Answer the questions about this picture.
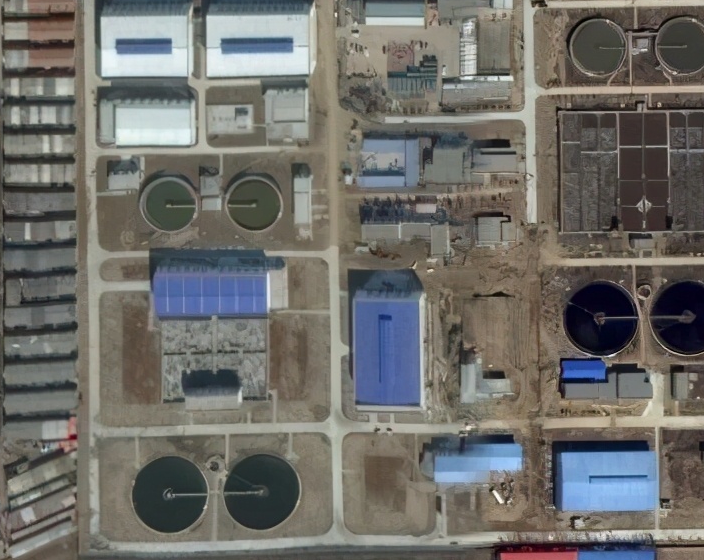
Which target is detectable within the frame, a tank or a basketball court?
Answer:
tank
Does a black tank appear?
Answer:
Yes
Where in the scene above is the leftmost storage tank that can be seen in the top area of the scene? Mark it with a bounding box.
[139,175,198,232]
